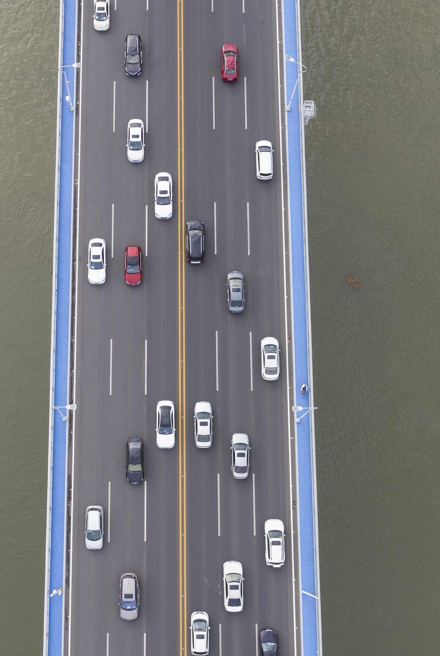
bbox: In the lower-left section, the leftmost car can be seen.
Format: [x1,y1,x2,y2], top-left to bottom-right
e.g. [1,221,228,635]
[83,506,104,550]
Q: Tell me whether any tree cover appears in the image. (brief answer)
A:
No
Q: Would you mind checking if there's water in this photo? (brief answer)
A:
Yes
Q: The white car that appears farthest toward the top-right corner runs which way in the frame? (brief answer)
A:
vertically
